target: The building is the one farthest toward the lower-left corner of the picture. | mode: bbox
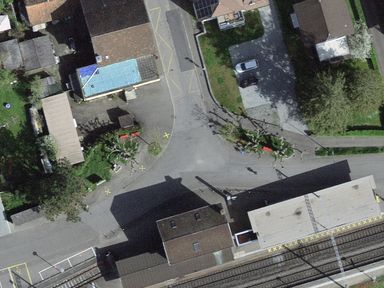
[11,202,56,225]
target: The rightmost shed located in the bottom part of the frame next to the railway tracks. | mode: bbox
[248,176,381,248]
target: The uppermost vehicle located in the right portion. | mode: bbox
[236,58,260,72]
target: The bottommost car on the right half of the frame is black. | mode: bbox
[239,75,260,88]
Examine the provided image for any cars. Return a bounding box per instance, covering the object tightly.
[239,75,260,88]
[236,58,260,72]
